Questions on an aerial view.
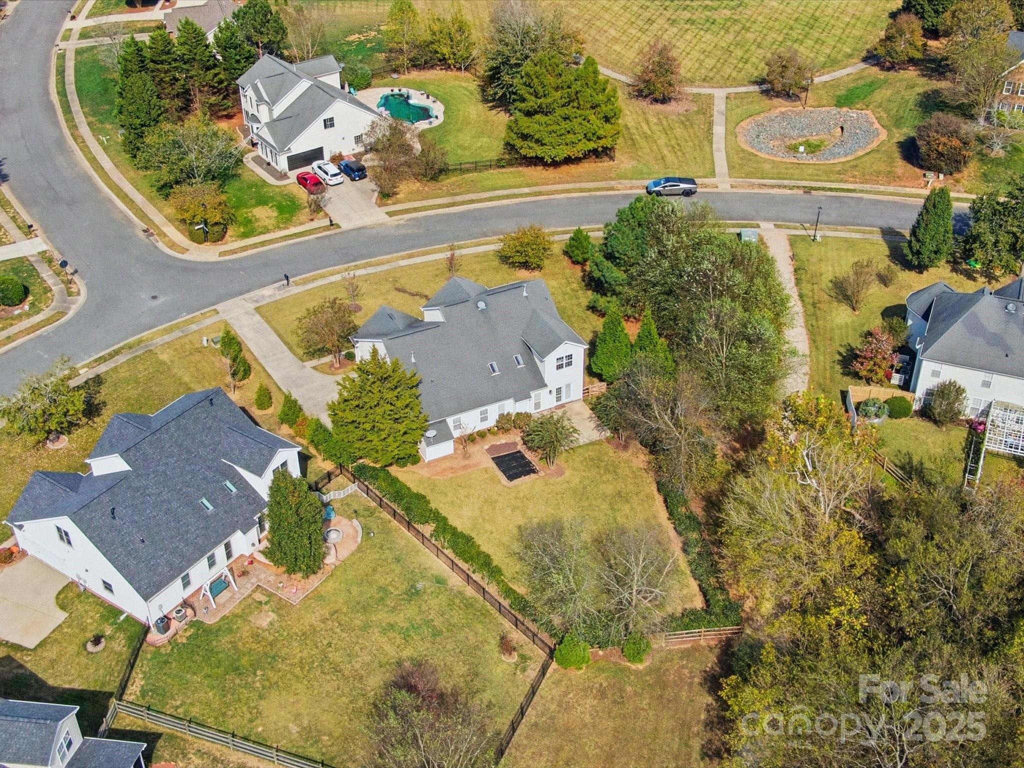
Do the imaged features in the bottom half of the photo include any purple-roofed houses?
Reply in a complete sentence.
No, no purple-roofed house appears in the bottom half of the photo.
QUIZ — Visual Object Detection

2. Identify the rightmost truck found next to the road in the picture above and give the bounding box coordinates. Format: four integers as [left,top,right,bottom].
[648,176,698,197]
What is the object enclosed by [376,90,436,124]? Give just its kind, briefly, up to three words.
swimming pool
